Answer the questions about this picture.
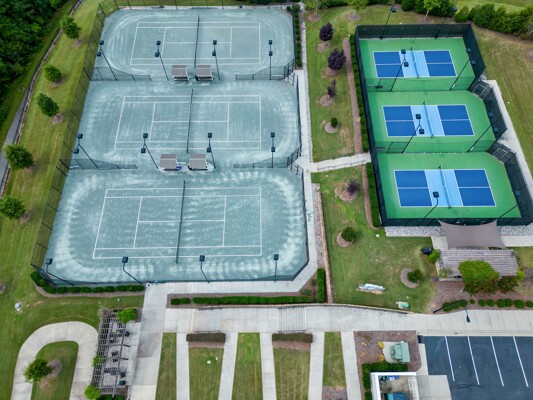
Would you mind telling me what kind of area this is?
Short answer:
sports ground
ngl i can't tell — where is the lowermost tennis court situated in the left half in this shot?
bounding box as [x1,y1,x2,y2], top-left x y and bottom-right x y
[43,166,310,285]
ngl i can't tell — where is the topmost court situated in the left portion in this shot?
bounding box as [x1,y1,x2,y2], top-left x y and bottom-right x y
[91,7,297,80]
